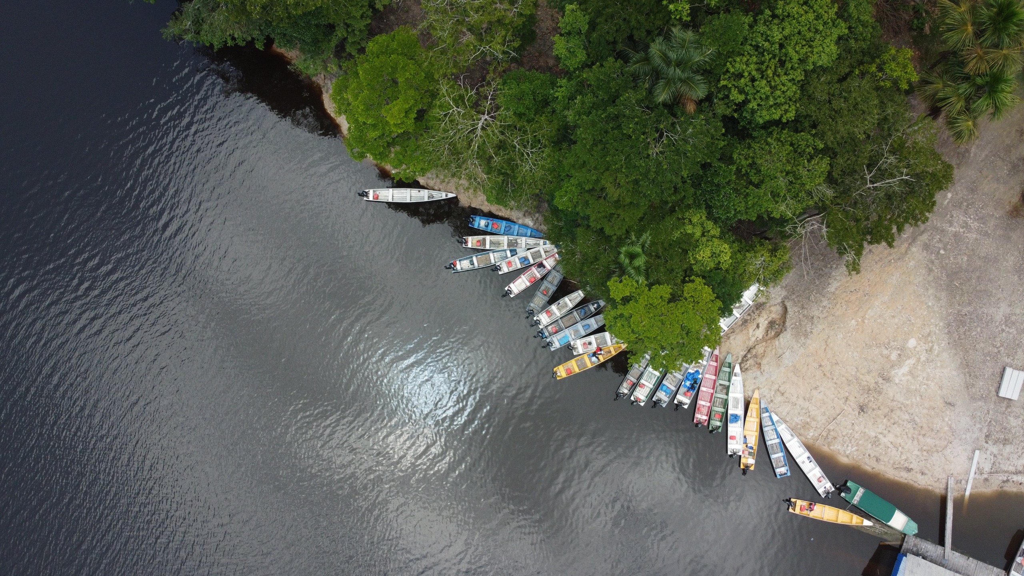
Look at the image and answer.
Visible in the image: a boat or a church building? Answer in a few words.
boat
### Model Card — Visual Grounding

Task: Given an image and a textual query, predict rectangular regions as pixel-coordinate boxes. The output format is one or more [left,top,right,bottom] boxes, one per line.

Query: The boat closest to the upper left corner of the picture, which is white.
[357,188,457,203]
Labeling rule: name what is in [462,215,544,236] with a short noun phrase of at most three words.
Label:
boat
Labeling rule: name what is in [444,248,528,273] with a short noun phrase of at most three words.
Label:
boat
